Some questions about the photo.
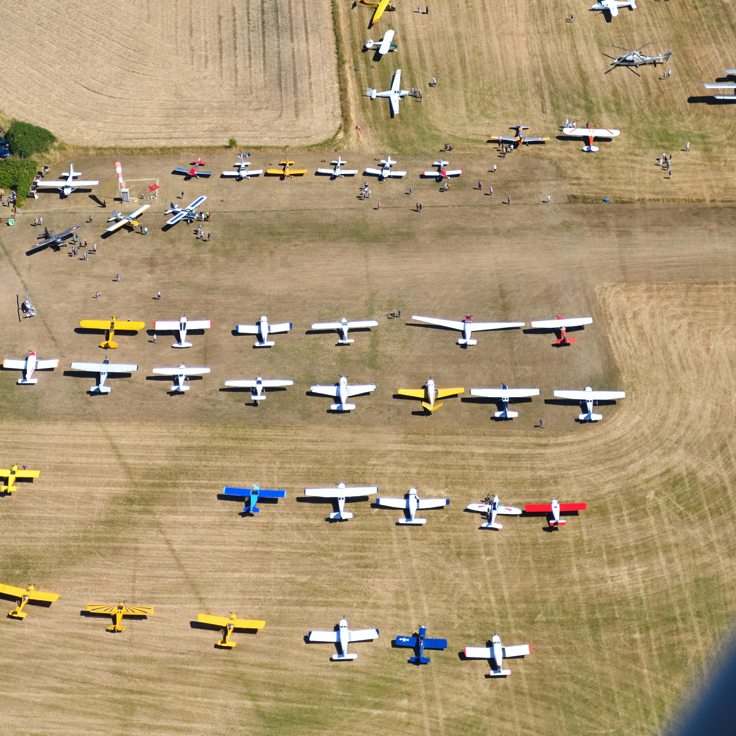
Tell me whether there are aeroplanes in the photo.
Yes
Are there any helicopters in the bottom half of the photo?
No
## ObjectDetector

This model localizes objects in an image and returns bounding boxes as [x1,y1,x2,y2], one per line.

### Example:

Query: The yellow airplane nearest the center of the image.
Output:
[398,379,464,410]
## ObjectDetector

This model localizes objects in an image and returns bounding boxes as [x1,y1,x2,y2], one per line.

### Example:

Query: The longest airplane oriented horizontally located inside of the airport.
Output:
[412,315,525,345]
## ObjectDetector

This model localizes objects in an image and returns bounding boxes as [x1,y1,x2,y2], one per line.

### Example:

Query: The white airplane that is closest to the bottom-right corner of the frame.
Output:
[463,634,531,676]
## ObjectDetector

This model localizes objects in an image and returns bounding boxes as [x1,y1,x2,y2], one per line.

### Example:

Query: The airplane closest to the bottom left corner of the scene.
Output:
[0,584,59,621]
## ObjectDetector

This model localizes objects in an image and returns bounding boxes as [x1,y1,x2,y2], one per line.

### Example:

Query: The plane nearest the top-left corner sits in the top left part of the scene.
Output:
[38,164,99,199]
